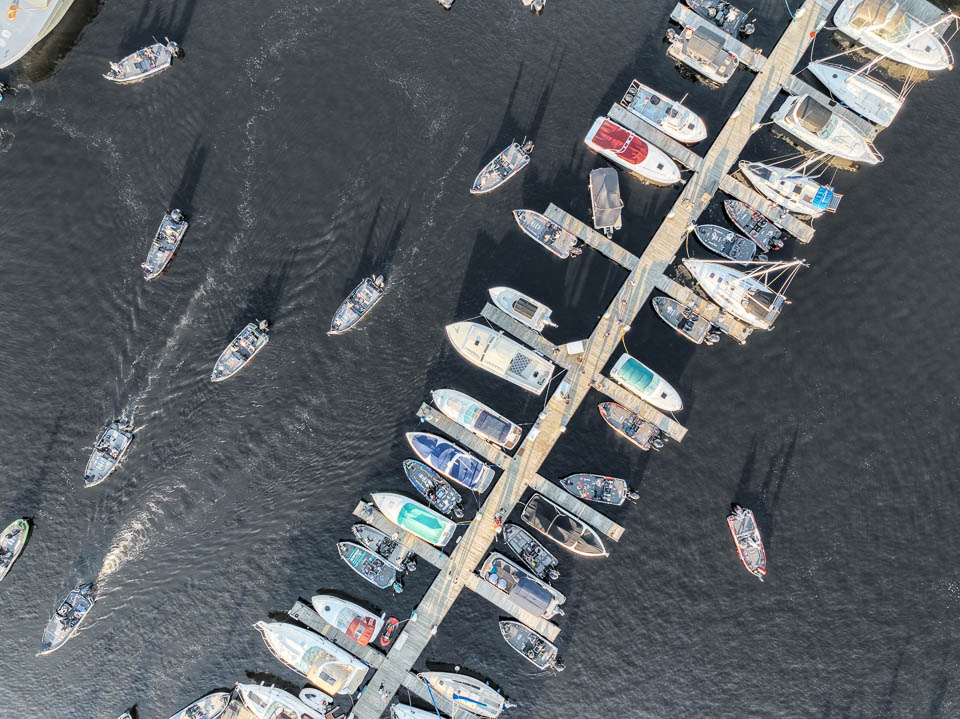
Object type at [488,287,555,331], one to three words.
boat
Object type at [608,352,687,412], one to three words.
boat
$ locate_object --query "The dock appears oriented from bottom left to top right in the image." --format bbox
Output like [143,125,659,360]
[343,0,838,719]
